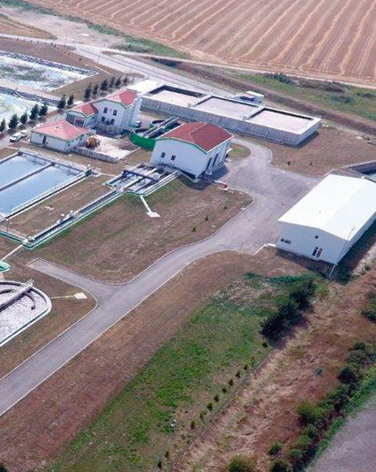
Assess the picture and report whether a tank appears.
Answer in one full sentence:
Yes, a tank appears in the view.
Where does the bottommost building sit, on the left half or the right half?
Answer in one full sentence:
The bottommost building is on the right side of the image.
